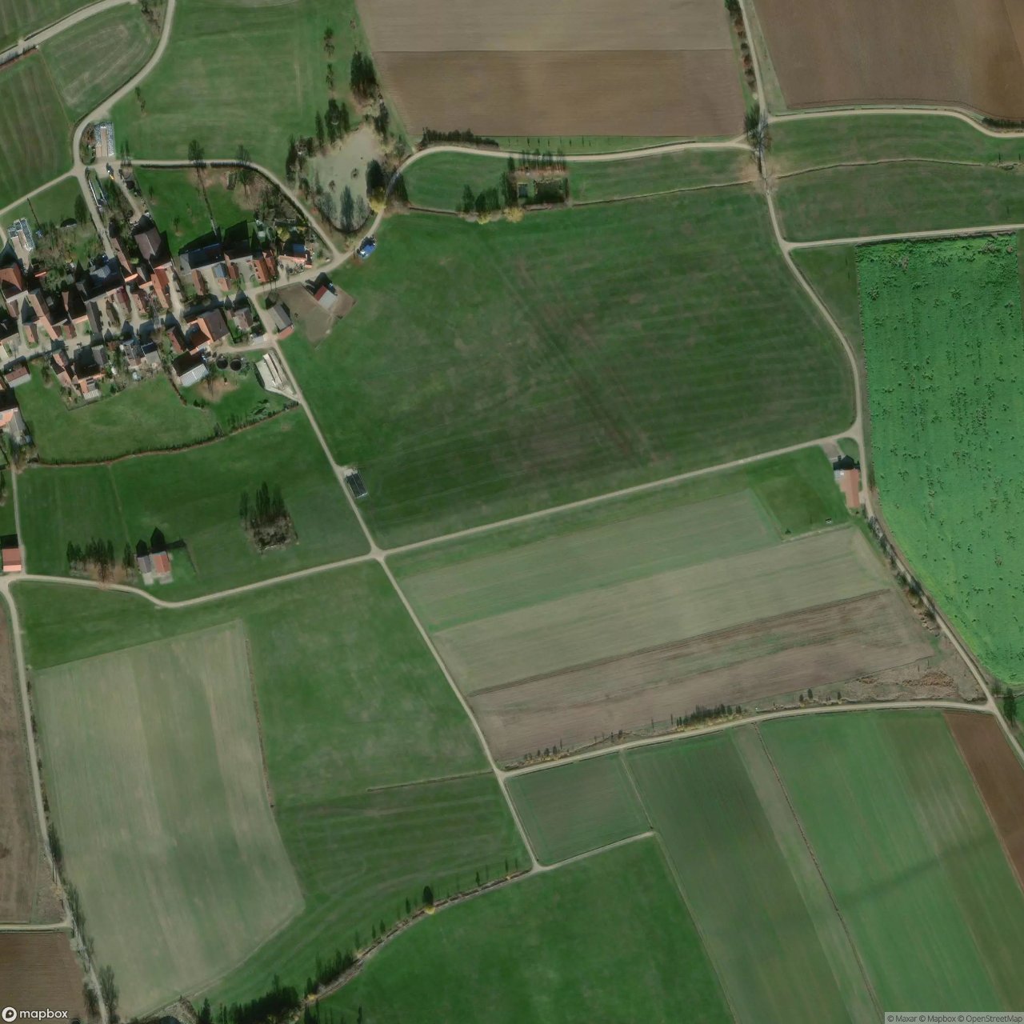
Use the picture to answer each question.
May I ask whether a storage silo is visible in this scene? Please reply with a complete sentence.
Yes, looking at the shot, I can spot a storage silo.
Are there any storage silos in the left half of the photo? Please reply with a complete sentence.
Yes, in the left half of the photo there is a storage silo.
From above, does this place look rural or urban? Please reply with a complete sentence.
This place is rural.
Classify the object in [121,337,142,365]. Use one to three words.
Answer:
house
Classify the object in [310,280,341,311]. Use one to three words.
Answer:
barn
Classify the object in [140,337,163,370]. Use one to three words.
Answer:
shed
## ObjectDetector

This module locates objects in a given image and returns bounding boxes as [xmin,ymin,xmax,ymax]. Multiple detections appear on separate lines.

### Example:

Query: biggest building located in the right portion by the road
[838,464,861,508]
